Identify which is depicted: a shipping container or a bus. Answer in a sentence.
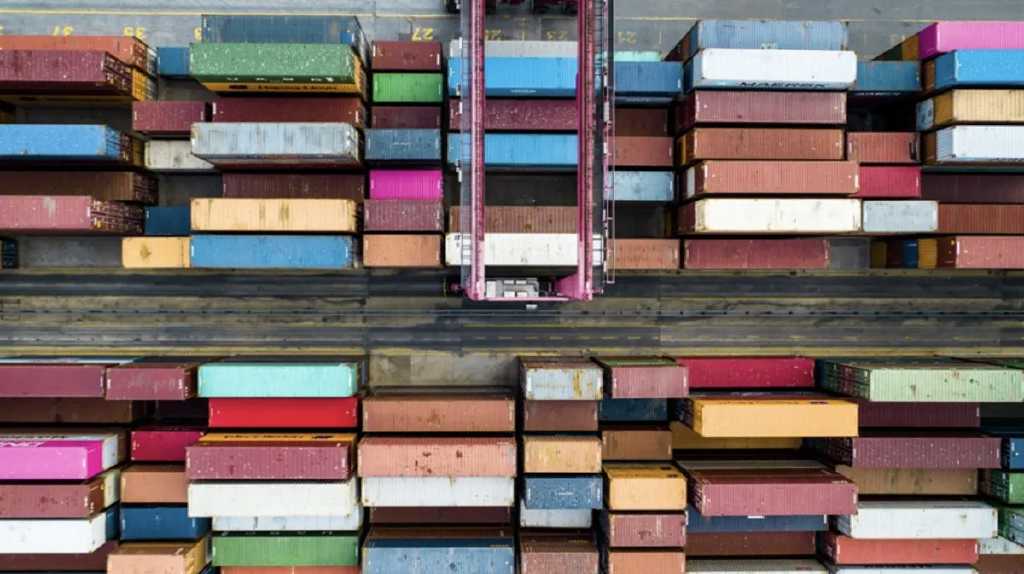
It is a shipping container that can be seen here.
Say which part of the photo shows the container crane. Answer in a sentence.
The container crane appears toward the top of the photo.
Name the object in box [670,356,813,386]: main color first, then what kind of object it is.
red shipping container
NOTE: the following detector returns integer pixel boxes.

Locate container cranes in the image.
[448,0,615,300]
